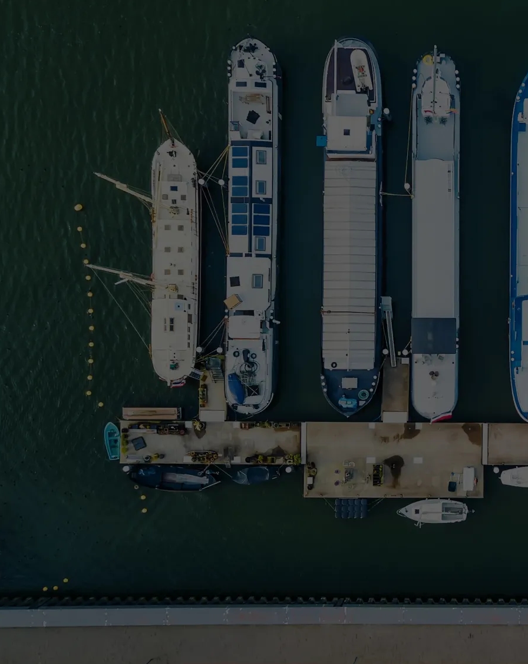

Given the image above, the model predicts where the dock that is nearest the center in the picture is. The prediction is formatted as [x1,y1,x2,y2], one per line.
[199,356,229,422]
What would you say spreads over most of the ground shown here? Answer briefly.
water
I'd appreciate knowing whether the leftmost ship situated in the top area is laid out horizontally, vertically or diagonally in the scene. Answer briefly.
vertically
